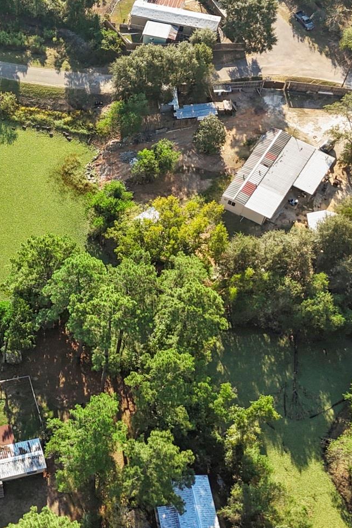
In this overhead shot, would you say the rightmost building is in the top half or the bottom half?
top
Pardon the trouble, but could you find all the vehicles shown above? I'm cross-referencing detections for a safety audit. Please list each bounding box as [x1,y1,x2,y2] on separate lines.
[317,135,337,151]
[293,12,315,29]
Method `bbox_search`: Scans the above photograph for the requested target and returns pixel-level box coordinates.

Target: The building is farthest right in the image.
[224,126,331,225]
